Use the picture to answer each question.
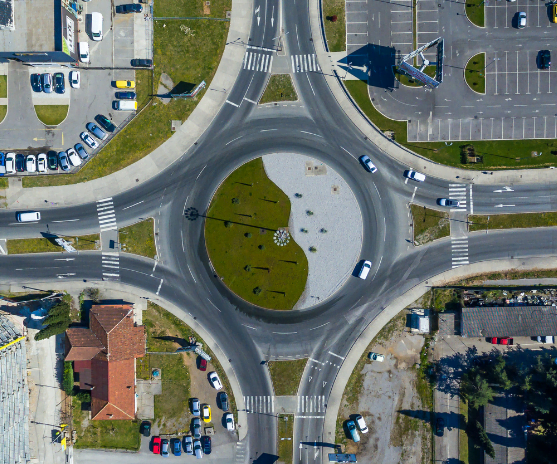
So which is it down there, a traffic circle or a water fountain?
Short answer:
traffic circle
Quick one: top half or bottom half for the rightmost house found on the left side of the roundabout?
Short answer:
bottom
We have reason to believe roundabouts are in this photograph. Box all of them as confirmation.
[158,106,409,358]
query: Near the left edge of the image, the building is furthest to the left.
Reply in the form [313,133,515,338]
[0,0,81,63]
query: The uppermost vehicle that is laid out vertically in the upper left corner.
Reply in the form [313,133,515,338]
[90,10,103,42]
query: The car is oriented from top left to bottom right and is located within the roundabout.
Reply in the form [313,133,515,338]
[359,154,377,172]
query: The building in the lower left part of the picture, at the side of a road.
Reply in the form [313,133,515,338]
[65,304,147,420]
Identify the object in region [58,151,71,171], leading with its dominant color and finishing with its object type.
blue vehicle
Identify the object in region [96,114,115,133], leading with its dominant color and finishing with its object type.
black car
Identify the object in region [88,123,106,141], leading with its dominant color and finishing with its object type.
blue car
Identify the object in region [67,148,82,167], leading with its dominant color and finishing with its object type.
white car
